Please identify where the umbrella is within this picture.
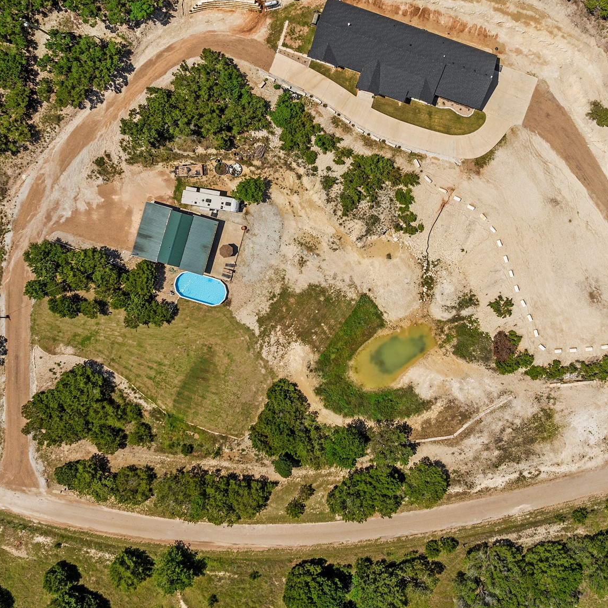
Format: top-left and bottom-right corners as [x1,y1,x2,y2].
[220,244,234,258]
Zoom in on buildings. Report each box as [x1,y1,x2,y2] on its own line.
[132,202,219,276]
[308,0,497,109]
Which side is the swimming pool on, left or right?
left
